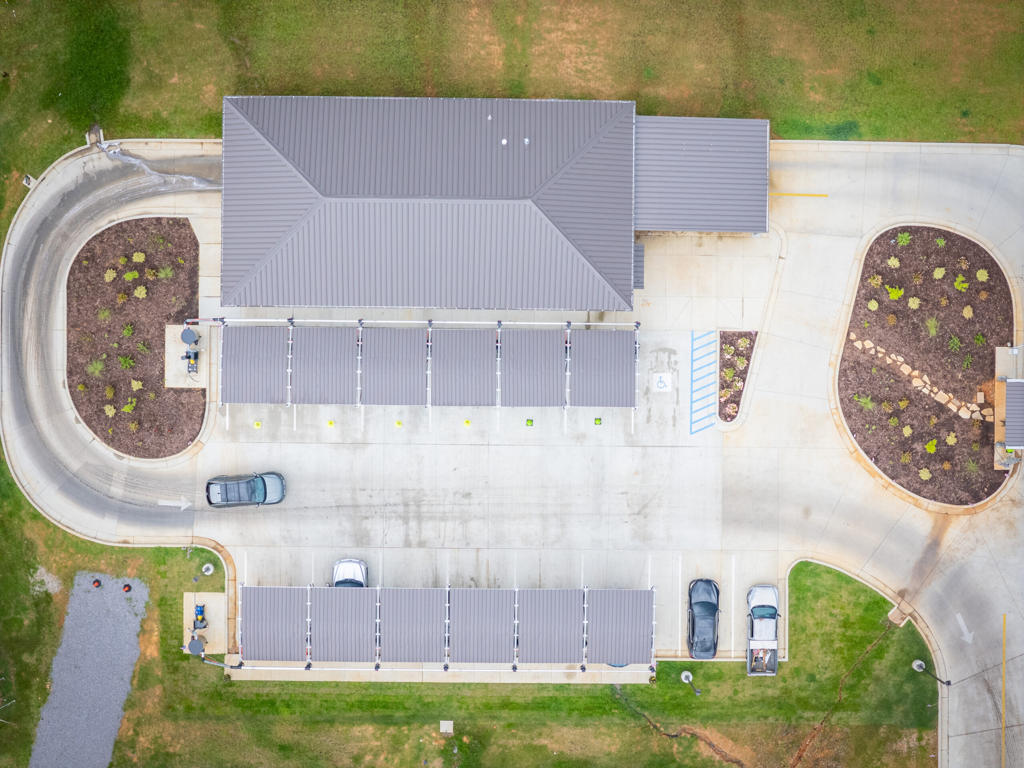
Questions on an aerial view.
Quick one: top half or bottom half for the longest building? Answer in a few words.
top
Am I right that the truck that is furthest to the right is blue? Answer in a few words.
No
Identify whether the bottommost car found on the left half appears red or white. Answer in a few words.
white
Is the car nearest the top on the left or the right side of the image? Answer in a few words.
left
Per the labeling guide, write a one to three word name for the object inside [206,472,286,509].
car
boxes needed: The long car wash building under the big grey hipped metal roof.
[219,94,769,313]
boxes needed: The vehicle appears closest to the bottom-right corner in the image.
[744,584,782,678]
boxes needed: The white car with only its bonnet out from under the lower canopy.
[330,557,369,588]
